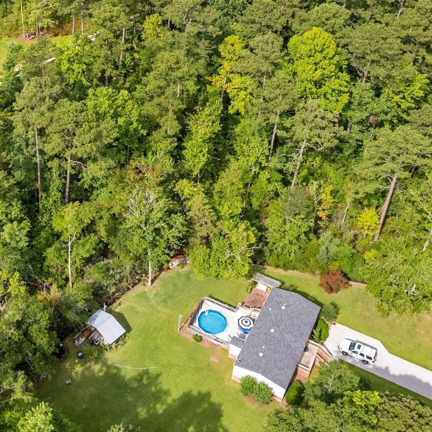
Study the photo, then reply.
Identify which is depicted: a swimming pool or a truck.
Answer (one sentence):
Of the two, only a swimming pool appears.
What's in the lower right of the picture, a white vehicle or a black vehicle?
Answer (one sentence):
It is a white vehicle that can be seen in the lower right of the picture.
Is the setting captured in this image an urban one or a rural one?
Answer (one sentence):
It looks rural.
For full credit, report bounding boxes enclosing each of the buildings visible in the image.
[82,309,128,355]
[230,287,321,403]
